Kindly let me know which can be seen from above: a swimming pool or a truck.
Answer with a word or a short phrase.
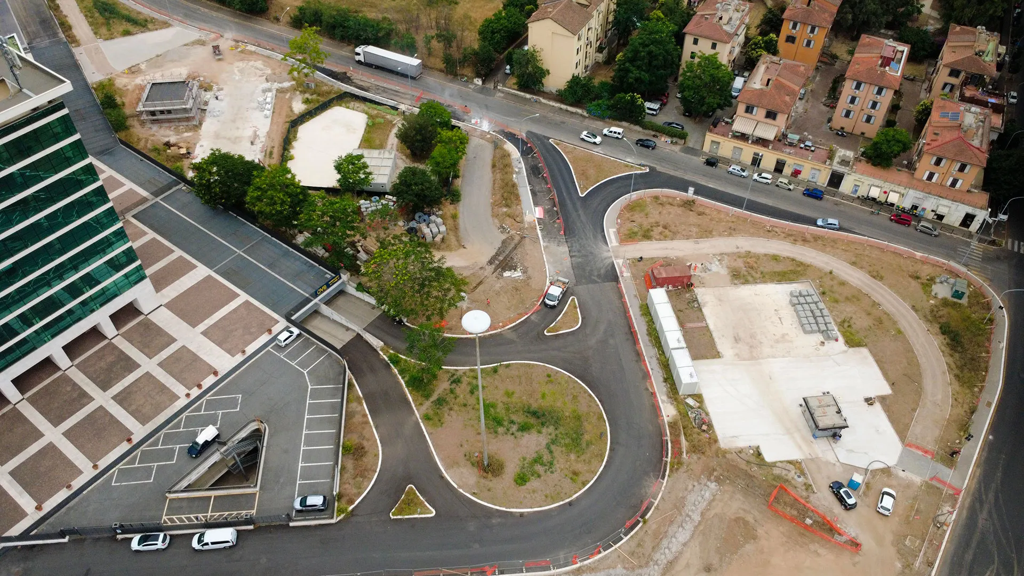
truck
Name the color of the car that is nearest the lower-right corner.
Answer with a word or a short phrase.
white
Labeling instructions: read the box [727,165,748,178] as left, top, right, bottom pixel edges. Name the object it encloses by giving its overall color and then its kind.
gray vehicle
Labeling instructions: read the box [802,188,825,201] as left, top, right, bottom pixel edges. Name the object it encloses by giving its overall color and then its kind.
blue vehicle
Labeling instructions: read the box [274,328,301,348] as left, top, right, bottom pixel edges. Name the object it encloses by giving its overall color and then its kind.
white car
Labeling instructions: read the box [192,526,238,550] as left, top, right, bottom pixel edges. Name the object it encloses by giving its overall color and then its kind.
white vehicle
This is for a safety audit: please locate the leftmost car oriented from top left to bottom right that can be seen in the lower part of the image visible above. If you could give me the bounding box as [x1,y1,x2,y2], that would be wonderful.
[826,481,862,513]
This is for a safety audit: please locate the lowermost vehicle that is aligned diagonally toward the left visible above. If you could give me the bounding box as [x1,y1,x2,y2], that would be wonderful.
[185,421,223,457]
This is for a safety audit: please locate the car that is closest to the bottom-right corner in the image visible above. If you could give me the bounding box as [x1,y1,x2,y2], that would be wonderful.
[875,487,897,519]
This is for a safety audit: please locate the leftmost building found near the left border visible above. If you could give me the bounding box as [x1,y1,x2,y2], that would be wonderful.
[0,37,162,405]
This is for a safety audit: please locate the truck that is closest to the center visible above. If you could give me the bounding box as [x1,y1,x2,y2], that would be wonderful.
[546,276,568,304]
